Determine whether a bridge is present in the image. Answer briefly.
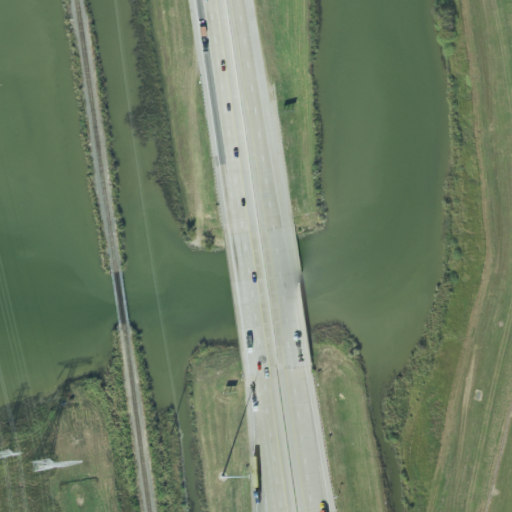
Yes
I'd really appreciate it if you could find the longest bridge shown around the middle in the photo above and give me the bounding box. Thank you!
[223,231,313,367]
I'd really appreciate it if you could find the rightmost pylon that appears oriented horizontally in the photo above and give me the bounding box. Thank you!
[34,458,83,474]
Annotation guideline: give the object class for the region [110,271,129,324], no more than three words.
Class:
bridge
